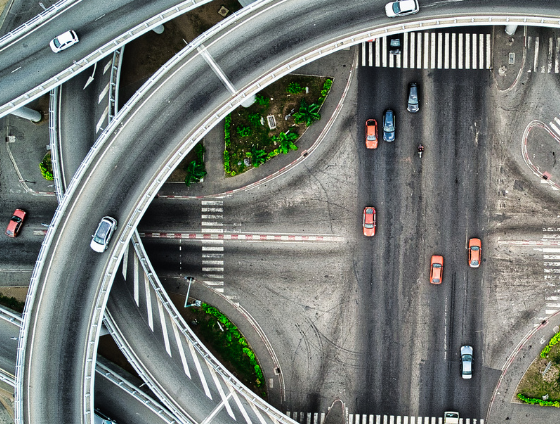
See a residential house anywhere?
No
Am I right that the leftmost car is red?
Yes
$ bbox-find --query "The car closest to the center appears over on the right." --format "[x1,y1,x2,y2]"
[362,206,376,236]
